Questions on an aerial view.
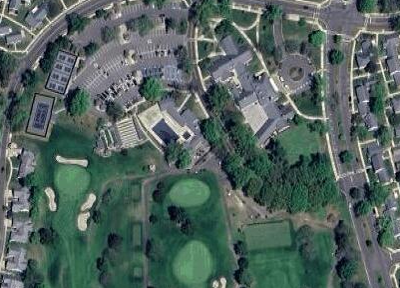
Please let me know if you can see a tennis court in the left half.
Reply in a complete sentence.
Yes, I can see a tennis court in the left half.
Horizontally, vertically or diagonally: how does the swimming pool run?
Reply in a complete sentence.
I'd say the swimming pool is aligned diagonally in the picture.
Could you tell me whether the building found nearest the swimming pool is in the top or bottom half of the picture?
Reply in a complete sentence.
Seen from above, the building found nearest the swimming pool lies in the top half of the view.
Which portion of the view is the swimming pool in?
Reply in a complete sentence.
You can find the swimming pool in the center area of the picture.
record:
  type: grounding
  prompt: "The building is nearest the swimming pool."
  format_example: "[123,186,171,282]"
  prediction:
[211,36,294,143]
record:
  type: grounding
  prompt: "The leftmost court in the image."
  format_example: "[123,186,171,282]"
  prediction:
[24,93,56,139]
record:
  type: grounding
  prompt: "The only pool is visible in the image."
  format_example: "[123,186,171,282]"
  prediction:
[137,103,194,147]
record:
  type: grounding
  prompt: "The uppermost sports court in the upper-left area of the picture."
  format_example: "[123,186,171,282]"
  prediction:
[44,50,78,94]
